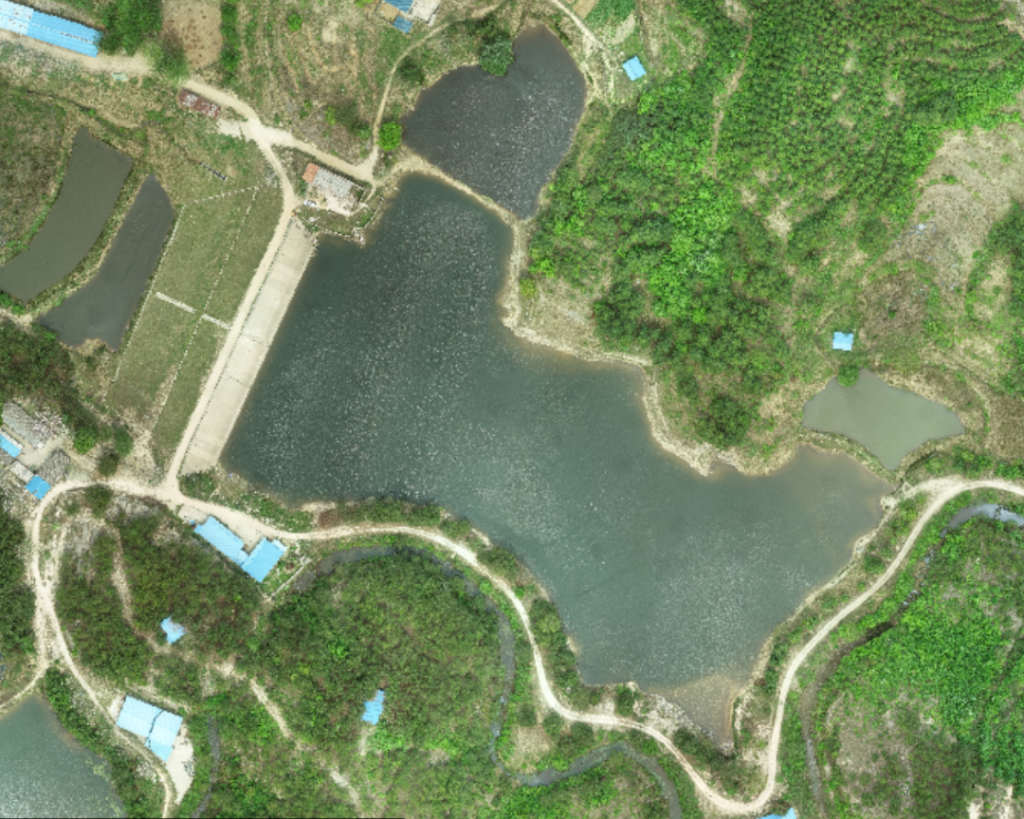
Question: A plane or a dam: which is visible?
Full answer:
Looking from above, you can make out a dam.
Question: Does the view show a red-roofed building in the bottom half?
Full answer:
No, no red-roofed building can be made out in the bottom half.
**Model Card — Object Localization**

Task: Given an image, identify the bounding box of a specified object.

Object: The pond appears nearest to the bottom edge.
[0,694,132,819]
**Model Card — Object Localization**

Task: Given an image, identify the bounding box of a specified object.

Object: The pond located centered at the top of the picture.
[402,25,586,219]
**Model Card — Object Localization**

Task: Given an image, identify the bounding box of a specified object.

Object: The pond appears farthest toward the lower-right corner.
[803,369,963,469]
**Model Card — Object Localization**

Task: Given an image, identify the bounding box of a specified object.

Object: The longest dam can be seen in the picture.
[108,182,317,478]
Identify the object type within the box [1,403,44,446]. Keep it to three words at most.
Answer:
barn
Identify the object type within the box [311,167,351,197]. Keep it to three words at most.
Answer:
house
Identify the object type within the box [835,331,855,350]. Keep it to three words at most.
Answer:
shed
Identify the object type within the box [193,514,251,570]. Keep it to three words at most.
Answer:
house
